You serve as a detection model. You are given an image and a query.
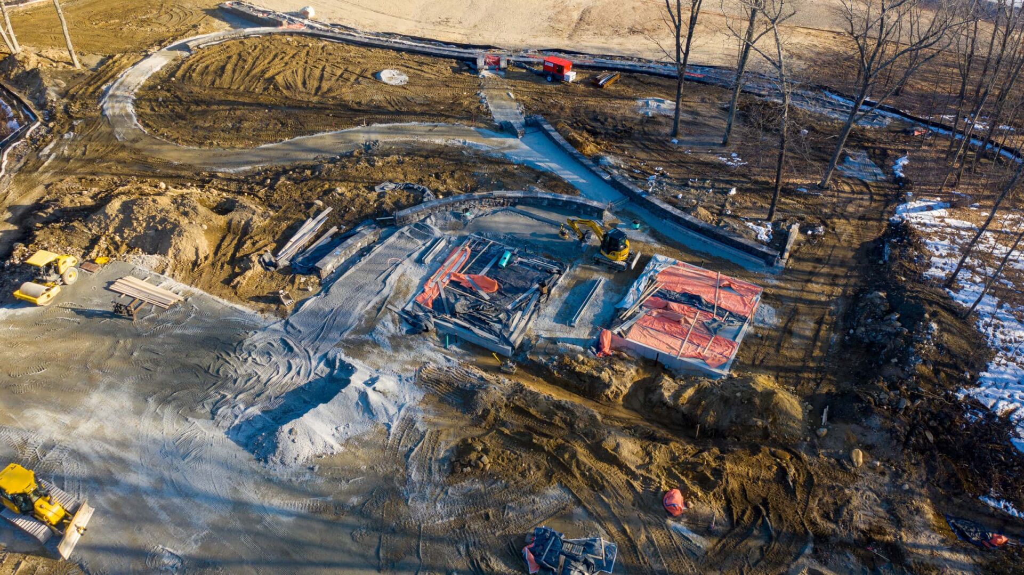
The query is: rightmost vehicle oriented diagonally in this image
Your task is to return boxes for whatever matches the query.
[567,211,644,276]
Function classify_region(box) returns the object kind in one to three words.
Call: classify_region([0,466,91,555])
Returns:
work vehicle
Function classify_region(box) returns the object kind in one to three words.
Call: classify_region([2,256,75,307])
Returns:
work vehicle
